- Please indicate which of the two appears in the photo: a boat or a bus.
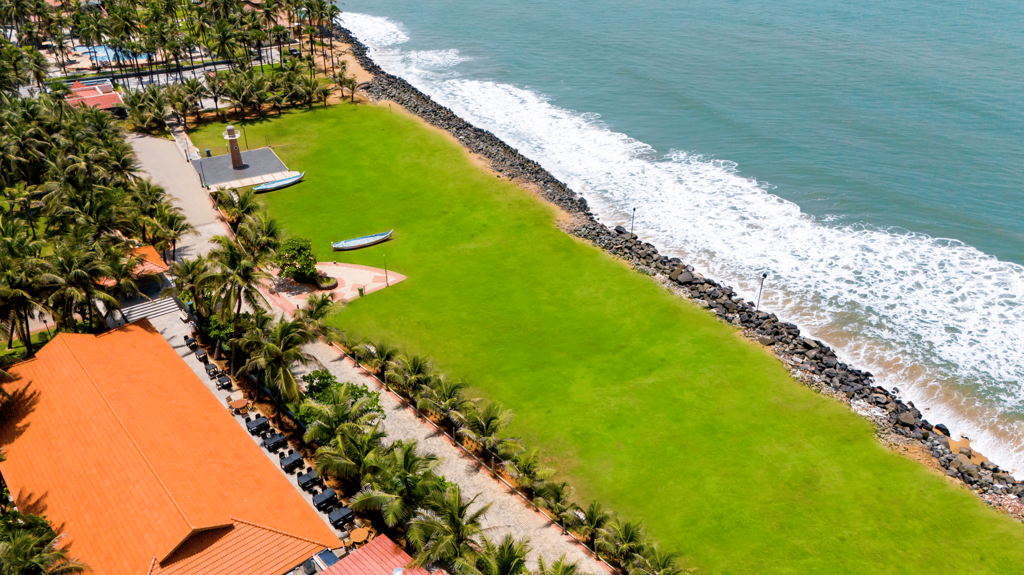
boat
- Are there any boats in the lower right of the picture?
No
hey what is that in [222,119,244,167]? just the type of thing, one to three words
lighthouse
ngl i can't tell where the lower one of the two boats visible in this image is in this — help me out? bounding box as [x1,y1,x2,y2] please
[332,227,392,249]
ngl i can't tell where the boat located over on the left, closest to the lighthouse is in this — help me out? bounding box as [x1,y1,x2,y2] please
[253,170,303,190]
